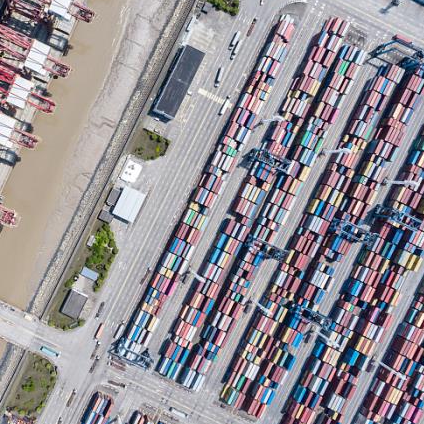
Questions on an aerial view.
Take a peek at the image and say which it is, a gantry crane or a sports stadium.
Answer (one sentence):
Visible in the photo is a gantry crane.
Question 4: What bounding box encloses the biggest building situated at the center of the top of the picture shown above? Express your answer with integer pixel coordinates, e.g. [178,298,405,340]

[153,44,206,118]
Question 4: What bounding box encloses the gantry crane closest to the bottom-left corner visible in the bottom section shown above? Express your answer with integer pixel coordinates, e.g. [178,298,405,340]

[104,330,156,374]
